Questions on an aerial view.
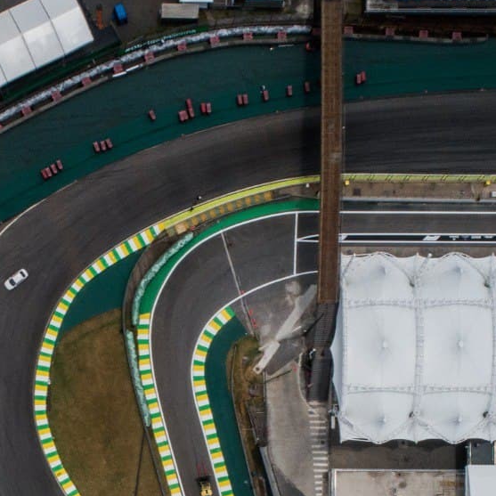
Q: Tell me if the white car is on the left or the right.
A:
left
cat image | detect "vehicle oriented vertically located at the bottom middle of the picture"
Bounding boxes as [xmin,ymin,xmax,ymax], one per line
[196,465,212,496]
